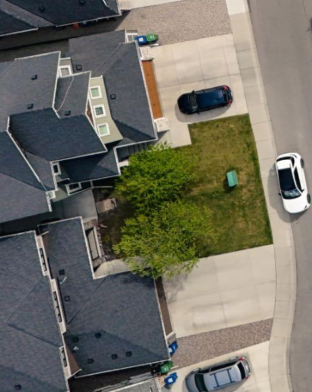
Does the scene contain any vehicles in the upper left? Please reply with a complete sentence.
No, there is no vehicle in the upper left.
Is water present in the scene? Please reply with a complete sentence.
No, water can't be seen anywhere here.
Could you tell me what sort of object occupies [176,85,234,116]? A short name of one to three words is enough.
car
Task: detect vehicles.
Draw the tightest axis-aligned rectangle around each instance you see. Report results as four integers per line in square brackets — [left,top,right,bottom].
[176,85,234,116]
[186,356,255,392]
[276,150,312,215]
